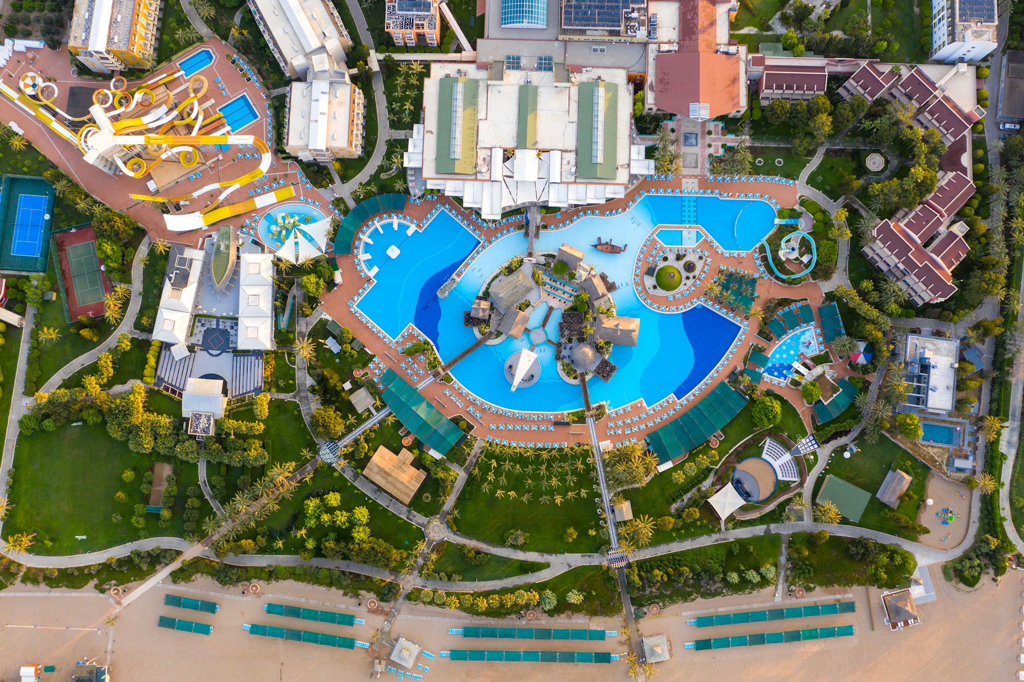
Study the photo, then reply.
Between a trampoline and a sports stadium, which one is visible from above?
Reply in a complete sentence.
There is a sports stadium in the scene.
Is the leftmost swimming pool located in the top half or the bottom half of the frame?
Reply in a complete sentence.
You can find the leftmost swimming pool in the top half.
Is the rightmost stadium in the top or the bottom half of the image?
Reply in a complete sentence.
Seen from above, the rightmost stadium lies in the bottom half of the view.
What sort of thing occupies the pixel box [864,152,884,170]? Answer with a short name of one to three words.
gazebo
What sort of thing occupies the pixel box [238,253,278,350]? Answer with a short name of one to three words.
building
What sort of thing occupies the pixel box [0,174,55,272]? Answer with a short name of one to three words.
tennis court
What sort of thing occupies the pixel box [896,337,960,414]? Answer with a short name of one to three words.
house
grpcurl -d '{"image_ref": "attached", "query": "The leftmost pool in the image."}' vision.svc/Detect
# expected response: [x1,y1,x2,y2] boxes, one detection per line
[177,48,215,79]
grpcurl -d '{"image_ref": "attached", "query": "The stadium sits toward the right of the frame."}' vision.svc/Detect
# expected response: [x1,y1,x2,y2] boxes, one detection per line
[732,456,780,504]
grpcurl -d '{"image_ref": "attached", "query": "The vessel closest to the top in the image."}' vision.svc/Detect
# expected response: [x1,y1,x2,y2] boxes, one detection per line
[591,236,627,253]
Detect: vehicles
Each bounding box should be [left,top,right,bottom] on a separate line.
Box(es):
[1000,123,1013,129]
[1000,134,1010,139]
